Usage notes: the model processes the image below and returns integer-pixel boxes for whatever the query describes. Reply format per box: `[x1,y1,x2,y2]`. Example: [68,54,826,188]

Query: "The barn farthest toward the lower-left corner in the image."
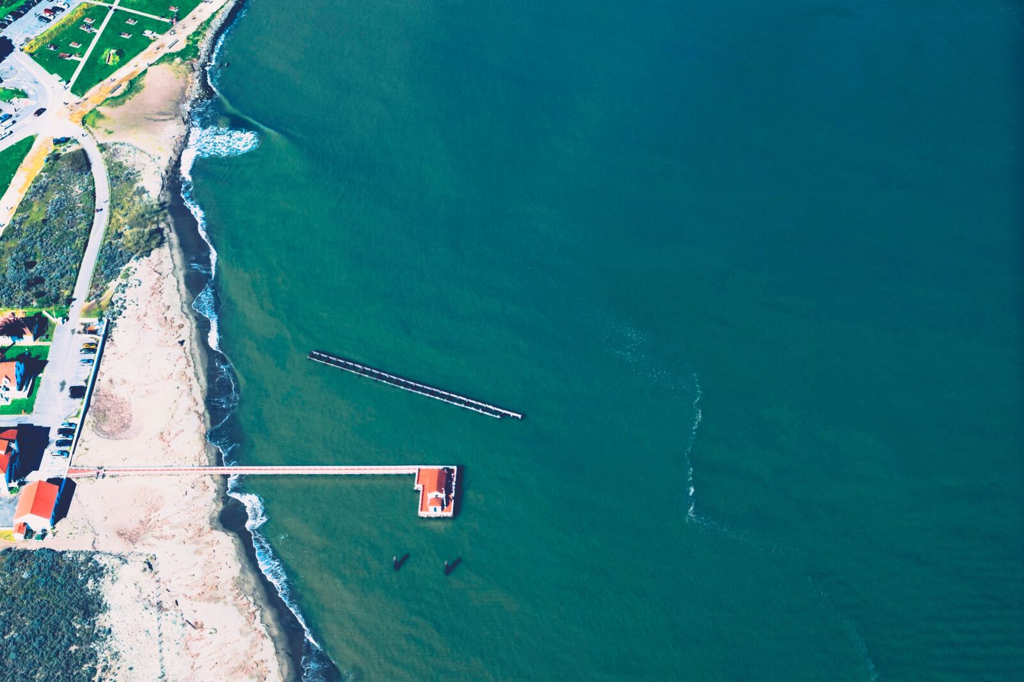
[13,479,60,540]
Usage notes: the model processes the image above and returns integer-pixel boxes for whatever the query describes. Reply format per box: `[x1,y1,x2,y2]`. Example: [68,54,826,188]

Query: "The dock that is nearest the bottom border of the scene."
[65,463,456,518]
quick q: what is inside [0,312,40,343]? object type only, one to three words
house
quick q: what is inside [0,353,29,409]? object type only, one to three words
house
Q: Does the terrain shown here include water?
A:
Yes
